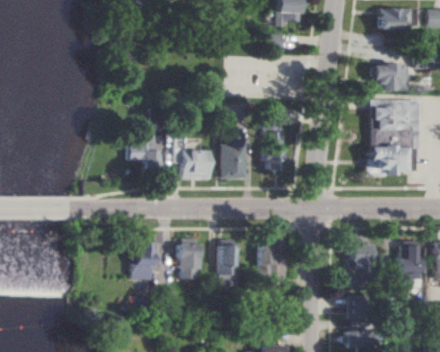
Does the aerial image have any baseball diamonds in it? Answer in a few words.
No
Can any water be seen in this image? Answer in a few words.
Yes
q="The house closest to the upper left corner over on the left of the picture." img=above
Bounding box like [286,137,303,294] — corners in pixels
[127,139,164,166]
